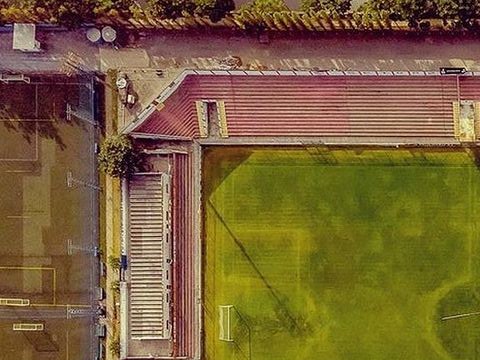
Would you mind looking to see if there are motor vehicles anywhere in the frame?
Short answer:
No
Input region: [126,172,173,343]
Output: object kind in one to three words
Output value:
building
